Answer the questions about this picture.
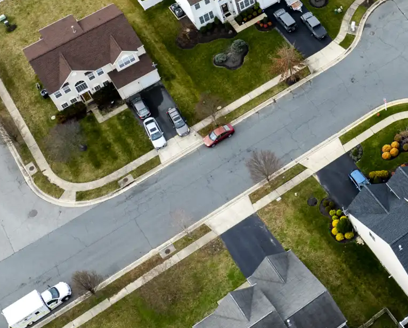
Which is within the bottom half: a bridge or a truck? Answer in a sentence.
There is a truck within the bottom half.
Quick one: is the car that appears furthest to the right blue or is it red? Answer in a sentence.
From above, the car that appears furthest to the right appears blue.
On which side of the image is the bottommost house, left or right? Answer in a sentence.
You can find the bottommost house on the right side of the picture.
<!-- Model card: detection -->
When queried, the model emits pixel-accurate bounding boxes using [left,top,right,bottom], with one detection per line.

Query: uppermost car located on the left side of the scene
[126,94,150,122]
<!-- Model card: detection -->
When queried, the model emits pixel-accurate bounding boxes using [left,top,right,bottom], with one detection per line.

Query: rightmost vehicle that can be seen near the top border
[302,10,328,40]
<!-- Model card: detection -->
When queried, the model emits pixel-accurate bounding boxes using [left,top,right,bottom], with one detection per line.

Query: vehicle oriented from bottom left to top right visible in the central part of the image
[201,123,237,151]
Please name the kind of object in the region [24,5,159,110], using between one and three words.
house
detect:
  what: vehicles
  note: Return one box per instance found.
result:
[345,167,373,196]
[126,94,150,122]
[201,123,237,151]
[302,10,328,40]
[164,106,189,137]
[142,118,165,149]
[0,291,70,328]
[273,8,297,32]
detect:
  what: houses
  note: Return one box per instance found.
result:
[24,5,159,110]
[193,250,345,328]
[345,165,408,294]
[179,0,279,25]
